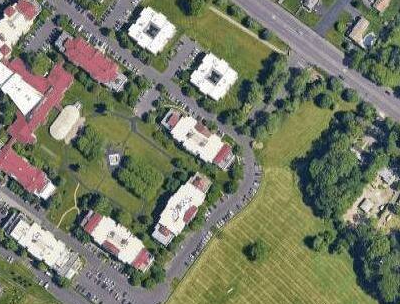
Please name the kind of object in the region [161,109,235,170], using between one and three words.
building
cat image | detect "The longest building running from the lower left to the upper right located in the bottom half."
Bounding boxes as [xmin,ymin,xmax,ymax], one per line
[152,172,212,247]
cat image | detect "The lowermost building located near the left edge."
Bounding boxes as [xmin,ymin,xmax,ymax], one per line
[3,213,80,281]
